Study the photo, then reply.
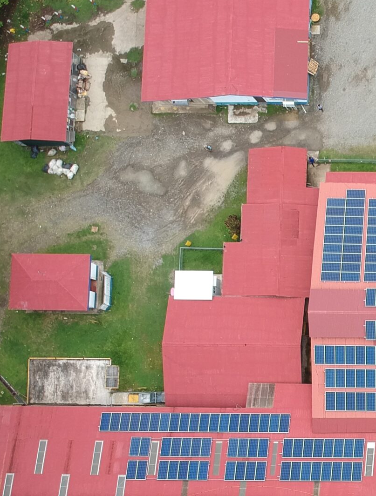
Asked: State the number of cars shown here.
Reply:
none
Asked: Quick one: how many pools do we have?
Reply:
0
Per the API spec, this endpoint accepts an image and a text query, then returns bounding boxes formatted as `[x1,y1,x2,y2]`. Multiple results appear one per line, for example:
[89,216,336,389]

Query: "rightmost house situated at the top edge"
[142,0,313,118]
